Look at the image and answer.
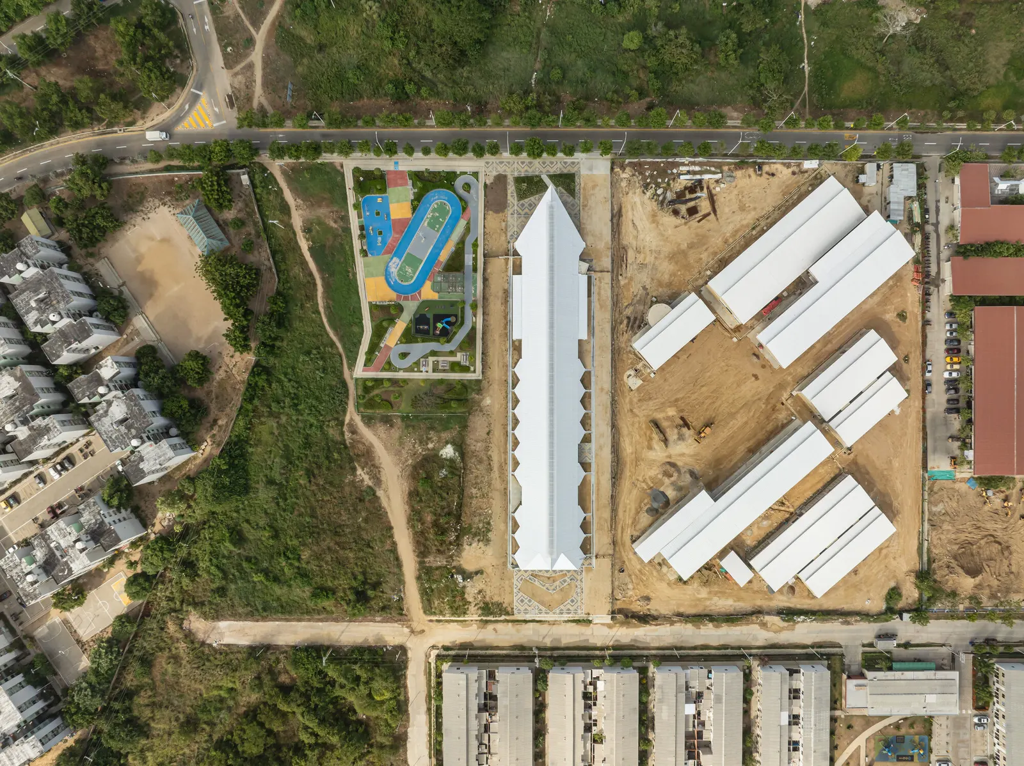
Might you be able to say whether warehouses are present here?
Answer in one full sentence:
Yes, a warehouse appears in the view.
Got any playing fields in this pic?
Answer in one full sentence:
Yes, looking at the shot, I can spot a playing field.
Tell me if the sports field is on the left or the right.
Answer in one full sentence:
The sports field appears in the left half of the scene.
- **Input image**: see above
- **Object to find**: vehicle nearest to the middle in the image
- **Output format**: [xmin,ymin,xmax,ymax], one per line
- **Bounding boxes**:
[694,422,717,445]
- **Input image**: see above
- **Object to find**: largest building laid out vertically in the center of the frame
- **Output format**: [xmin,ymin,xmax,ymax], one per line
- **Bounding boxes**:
[513,186,588,570]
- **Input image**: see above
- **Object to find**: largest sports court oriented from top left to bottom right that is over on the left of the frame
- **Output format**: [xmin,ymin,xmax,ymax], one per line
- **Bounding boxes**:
[34,618,89,685]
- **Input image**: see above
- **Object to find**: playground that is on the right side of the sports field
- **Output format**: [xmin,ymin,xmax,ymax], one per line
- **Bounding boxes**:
[362,195,392,256]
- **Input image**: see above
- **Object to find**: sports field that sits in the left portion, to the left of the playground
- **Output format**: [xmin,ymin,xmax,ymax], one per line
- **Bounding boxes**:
[120,208,231,365]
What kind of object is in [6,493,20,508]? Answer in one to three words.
car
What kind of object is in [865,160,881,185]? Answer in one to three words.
building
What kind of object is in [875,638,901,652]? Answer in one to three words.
vehicle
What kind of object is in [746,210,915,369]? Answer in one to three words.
warehouse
